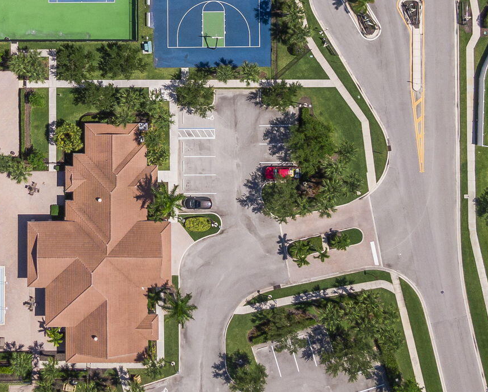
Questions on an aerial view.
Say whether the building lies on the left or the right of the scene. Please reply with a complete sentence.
The building appears in the left half of the scene.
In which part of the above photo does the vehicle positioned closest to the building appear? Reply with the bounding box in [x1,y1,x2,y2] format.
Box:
[183,197,213,210]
